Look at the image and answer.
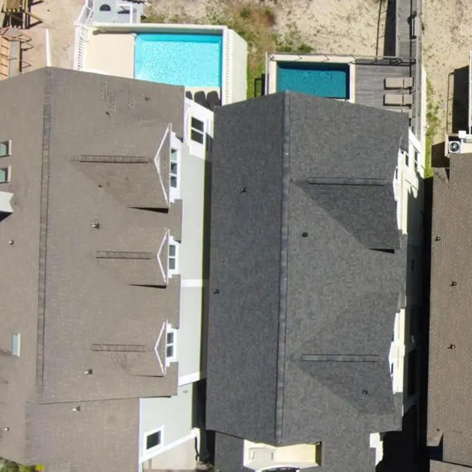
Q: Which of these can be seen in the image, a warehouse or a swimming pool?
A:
swimming pool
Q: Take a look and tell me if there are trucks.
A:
No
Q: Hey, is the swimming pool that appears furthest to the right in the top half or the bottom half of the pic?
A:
top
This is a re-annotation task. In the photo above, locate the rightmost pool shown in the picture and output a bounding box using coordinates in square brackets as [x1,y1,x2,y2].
[269,55,357,104]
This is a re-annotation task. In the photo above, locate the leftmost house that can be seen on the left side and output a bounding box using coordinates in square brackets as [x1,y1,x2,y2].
[0,68,215,472]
